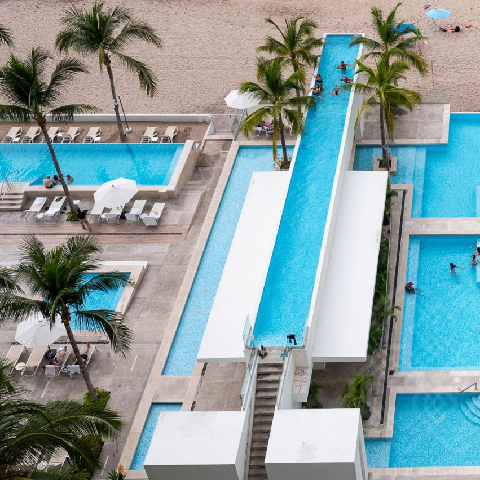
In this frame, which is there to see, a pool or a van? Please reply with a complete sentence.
I can see a pool in this picture.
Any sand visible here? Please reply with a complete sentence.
Yes, the picture does contain sand.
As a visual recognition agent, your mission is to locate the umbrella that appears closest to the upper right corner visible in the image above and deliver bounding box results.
[425,8,453,34]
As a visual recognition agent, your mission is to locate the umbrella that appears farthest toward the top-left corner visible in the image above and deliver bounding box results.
[89,181,141,227]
